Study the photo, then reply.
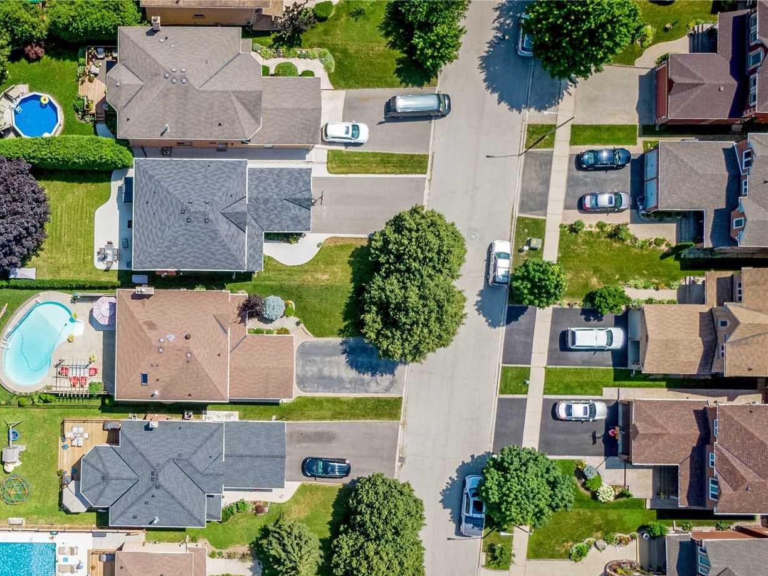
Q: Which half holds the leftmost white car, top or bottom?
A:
top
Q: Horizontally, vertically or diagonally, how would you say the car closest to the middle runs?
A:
vertically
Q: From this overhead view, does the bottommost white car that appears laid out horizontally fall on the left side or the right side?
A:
right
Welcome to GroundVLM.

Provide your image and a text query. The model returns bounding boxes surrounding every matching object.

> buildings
[631,268,768,377]
[80,413,287,528]
[115,543,207,576]
[620,399,768,515]
[133,158,327,272]
[115,286,296,401]
[646,133,768,248]
[610,521,768,576]
[106,15,323,148]
[655,0,768,122]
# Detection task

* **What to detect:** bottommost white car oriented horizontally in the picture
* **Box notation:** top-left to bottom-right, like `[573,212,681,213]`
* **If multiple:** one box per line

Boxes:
[553,399,605,424]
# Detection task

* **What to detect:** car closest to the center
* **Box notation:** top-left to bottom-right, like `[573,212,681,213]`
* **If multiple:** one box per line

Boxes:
[485,240,513,289]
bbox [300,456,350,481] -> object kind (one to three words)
car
